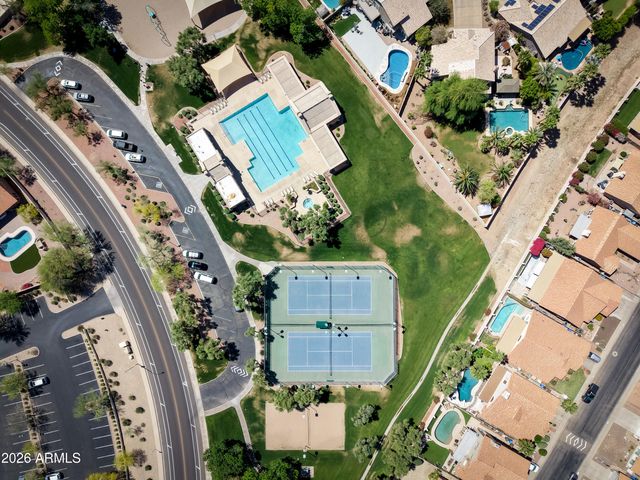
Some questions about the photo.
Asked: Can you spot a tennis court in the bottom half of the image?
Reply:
Yes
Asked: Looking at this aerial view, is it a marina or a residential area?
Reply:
residential area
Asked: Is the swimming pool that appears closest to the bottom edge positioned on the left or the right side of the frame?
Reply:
right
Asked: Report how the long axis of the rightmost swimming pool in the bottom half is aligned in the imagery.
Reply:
diagonally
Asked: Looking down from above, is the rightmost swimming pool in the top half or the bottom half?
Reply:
top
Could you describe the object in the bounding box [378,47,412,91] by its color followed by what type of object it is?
blue swimming pool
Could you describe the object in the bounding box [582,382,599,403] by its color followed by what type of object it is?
black vehicle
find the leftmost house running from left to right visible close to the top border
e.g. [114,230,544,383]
[356,0,431,34]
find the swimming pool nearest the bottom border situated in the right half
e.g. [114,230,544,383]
[434,410,460,445]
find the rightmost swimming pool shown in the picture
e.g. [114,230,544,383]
[560,38,596,72]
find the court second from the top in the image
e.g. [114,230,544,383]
[267,325,394,384]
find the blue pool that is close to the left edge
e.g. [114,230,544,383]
[0,228,34,259]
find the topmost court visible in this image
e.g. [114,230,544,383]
[267,266,394,325]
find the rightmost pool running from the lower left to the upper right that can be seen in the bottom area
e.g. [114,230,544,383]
[489,298,518,334]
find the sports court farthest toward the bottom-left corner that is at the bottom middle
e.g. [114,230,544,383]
[265,402,346,452]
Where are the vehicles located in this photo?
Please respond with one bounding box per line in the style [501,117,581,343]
[582,382,599,403]
[61,80,79,89]
[587,351,601,362]
[184,250,202,258]
[115,141,136,151]
[528,462,541,473]
[196,273,214,283]
[127,152,144,161]
[569,472,580,480]
[30,378,49,388]
[189,261,207,269]
[46,472,64,480]
[74,93,92,102]
[108,130,126,139]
